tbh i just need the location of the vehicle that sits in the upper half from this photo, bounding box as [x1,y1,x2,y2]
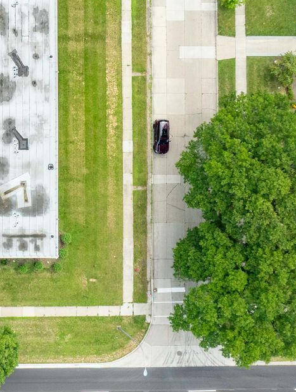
[152,120,169,154]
